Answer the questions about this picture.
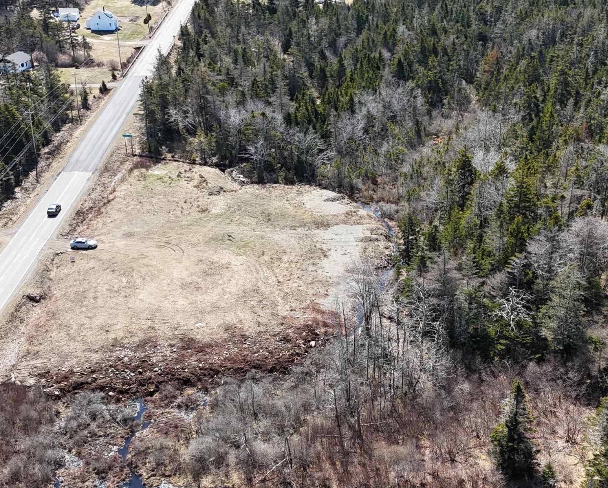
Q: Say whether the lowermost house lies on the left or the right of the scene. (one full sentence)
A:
The lowermost house is on the left side of the image.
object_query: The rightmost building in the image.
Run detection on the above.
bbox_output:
[86,0,124,31]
